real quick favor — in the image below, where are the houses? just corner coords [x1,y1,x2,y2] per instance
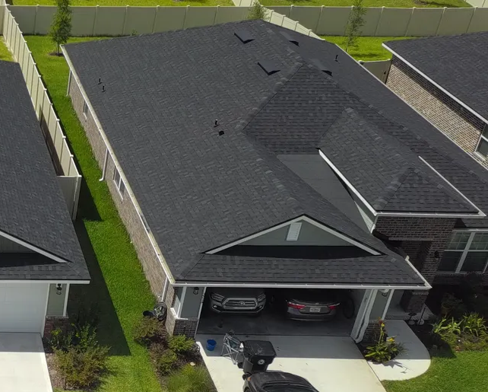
[59,19,488,344]
[0,59,94,335]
